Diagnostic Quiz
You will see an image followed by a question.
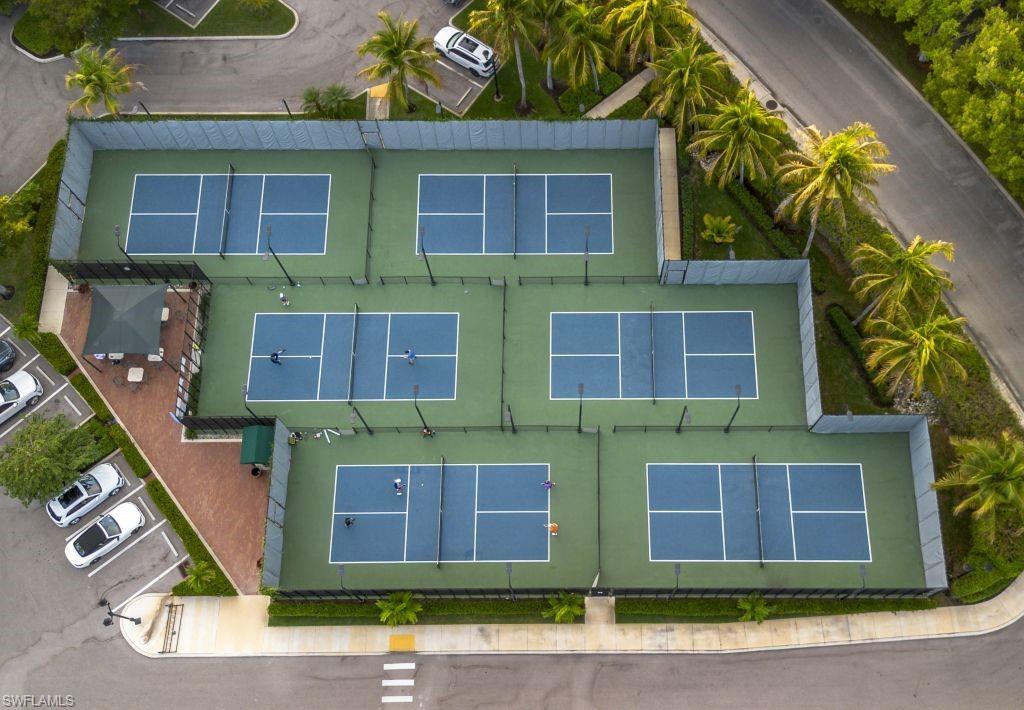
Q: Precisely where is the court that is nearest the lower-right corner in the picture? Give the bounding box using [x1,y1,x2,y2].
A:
[599,431,927,598]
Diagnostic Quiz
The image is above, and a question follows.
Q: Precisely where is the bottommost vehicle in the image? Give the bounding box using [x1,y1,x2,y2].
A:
[64,504,147,571]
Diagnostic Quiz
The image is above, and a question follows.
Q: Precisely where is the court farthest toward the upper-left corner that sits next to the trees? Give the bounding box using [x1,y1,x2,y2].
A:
[74,150,371,284]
